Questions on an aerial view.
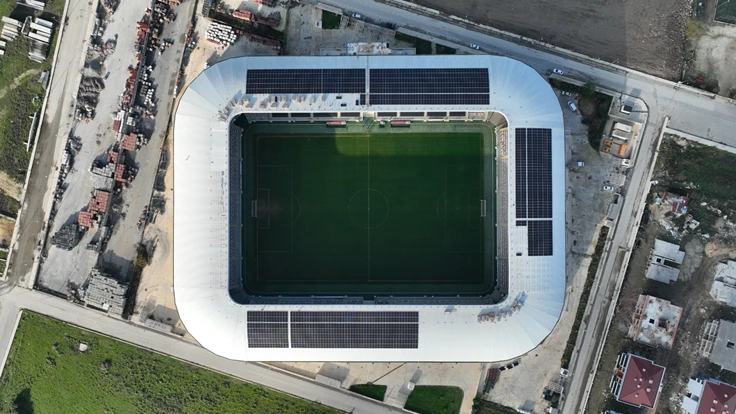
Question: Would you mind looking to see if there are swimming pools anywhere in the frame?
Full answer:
No, the photo shows no swimming pool.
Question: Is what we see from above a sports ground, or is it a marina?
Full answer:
The area seen from above is a sports ground.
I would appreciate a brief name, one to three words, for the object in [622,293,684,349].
house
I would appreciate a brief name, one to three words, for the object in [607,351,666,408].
house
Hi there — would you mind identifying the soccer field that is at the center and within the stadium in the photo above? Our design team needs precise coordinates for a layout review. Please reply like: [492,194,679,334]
[242,120,495,296]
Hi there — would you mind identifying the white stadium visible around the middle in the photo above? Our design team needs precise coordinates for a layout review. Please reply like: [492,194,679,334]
[172,55,566,362]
